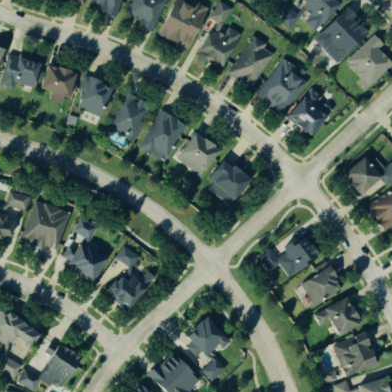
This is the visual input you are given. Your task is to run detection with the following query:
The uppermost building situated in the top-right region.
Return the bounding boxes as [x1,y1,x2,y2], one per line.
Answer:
[281,0,344,32]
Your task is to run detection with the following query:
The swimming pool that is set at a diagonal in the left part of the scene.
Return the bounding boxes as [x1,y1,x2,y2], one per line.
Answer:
[108,131,128,148]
